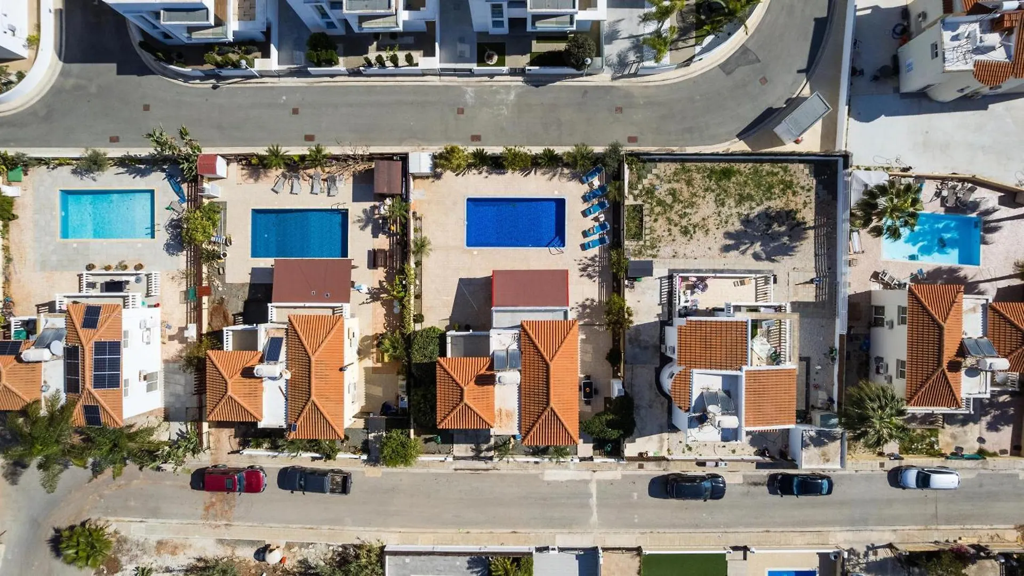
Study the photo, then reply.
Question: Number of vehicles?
5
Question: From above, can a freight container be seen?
No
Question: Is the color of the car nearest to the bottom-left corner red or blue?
red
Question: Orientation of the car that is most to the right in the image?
from left to right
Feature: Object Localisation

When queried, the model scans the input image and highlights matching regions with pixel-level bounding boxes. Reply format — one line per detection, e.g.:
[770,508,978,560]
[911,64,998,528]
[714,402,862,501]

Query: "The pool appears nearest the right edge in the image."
[879,207,985,268]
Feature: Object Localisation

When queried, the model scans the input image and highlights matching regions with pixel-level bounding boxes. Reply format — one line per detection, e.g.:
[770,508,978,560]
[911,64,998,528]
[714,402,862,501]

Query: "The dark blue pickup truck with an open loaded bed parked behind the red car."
[287,467,354,497]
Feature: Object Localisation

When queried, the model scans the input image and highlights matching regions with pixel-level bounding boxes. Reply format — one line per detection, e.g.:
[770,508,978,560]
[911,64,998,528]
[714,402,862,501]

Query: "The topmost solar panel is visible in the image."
[79,304,103,330]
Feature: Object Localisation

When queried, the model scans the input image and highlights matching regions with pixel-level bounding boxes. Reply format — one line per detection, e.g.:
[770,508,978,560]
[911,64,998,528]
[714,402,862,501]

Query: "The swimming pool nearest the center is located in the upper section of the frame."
[464,195,568,254]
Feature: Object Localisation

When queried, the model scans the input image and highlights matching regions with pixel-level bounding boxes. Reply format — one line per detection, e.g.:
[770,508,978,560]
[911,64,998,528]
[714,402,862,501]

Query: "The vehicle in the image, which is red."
[204,464,268,495]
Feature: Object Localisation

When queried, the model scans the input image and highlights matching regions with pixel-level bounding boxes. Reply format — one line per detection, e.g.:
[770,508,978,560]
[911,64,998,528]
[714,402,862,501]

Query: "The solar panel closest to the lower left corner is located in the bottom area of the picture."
[80,404,102,427]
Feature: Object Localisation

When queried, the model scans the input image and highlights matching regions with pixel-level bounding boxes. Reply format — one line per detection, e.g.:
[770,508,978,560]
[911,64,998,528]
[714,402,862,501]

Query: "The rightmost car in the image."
[897,464,961,493]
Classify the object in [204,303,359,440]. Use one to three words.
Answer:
house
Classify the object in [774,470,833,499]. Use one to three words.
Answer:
car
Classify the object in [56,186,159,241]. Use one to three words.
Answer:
swimming pool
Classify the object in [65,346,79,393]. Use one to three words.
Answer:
solar panel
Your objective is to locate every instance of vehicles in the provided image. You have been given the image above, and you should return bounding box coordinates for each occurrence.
[897,464,961,493]
[287,467,354,497]
[667,472,725,502]
[774,470,833,499]
[204,464,268,495]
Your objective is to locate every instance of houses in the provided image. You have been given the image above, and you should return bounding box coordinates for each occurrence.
[0,0,27,57]
[285,0,439,34]
[0,293,160,429]
[435,305,580,447]
[204,303,359,440]
[469,0,610,33]
[106,0,269,43]
[871,284,1024,418]
[901,0,1024,100]
[658,304,801,443]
